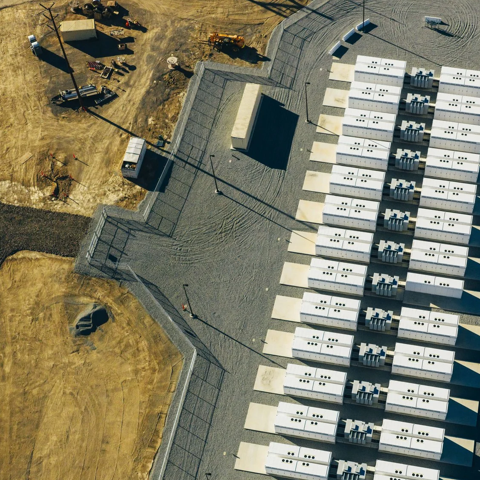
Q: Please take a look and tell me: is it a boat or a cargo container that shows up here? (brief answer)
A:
cargo container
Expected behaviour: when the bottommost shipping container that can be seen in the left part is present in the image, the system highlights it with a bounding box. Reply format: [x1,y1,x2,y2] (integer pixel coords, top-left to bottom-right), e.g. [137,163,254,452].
[121,137,148,179]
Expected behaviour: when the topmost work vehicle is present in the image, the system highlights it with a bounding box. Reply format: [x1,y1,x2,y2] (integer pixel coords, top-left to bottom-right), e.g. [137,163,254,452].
[201,35,242,51]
